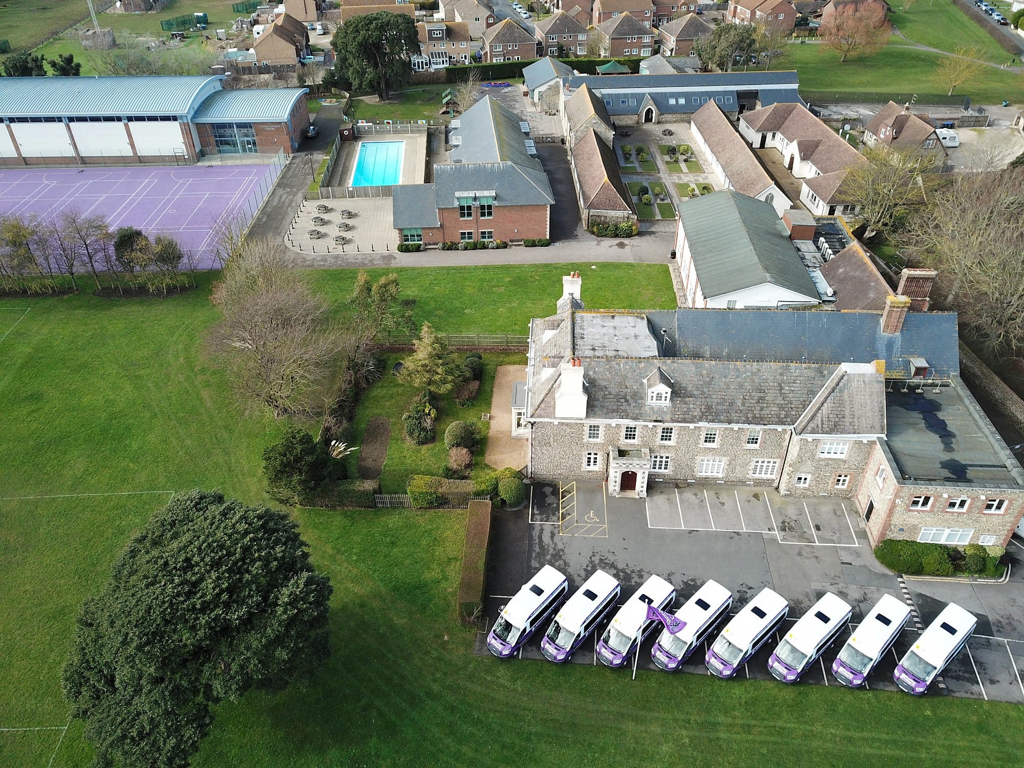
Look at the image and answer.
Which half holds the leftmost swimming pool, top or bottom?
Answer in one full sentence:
You can find the leftmost swimming pool in the top half.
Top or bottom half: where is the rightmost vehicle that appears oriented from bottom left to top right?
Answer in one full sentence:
The rightmost vehicle that appears oriented from bottom left to top right is in the bottom half of the image.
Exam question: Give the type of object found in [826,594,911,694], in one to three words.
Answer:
vehicle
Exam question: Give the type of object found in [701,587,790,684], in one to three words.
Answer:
vehicle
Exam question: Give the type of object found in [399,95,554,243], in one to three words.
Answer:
building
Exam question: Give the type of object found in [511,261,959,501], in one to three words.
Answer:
house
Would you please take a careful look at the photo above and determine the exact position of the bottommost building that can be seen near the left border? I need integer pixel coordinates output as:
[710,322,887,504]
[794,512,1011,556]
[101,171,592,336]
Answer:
[0,74,305,167]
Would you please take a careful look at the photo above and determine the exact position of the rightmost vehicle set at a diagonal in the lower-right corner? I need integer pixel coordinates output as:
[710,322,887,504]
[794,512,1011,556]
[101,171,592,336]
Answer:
[887,603,978,700]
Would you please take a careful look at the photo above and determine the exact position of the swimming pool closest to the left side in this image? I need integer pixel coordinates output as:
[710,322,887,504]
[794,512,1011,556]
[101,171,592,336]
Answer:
[350,140,405,186]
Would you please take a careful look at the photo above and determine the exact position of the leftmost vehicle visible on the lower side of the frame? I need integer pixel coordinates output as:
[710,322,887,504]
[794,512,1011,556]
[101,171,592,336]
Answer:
[486,564,570,663]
